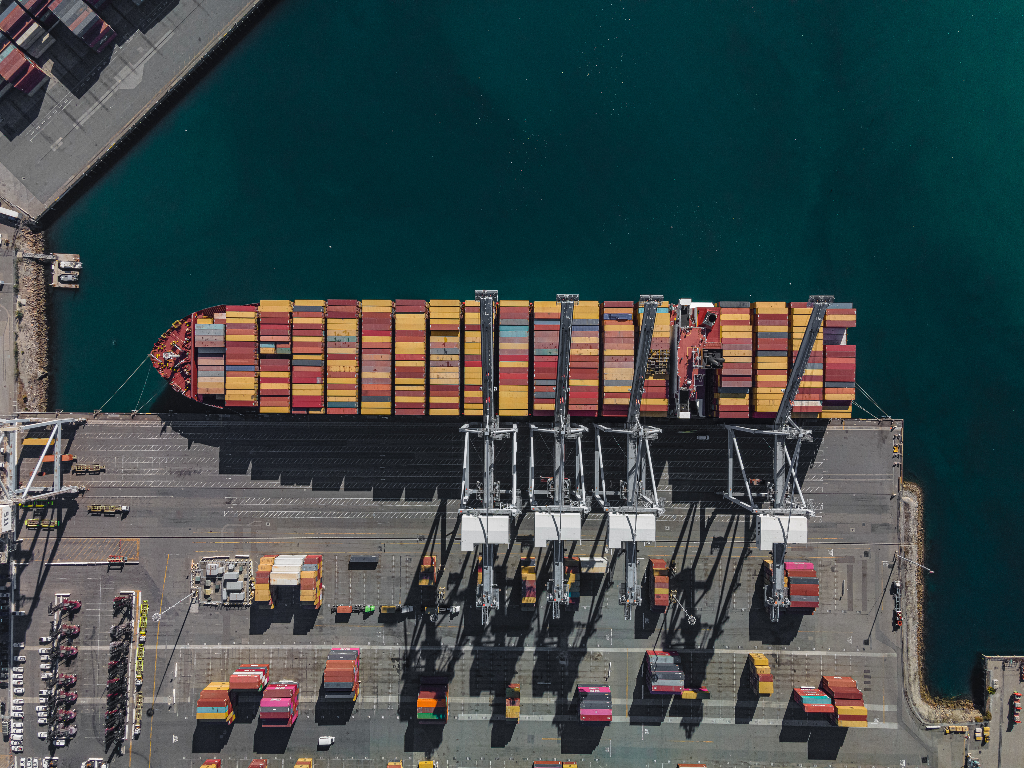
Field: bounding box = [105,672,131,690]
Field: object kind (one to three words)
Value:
work vehicle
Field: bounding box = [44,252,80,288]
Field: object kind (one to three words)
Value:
pier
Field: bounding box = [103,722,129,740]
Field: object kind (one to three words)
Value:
work vehicle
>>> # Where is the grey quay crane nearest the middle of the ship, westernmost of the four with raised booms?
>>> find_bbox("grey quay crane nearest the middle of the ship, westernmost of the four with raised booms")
[452,288,526,622]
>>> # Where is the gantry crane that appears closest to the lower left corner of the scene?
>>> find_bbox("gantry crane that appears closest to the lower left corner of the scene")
[0,418,91,540]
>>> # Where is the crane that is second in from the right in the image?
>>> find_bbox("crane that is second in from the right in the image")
[587,294,671,623]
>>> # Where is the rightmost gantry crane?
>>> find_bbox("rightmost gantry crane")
[710,295,833,624]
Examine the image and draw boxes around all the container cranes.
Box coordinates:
[587,294,671,623]
[452,288,526,622]
[520,292,597,622]
[0,418,91,540]
[710,295,833,624]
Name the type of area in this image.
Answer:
port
